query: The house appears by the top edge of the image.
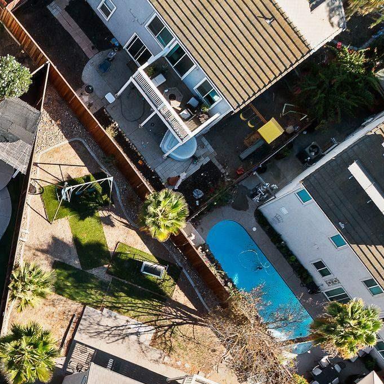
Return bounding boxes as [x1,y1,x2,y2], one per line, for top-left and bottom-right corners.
[88,0,348,137]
